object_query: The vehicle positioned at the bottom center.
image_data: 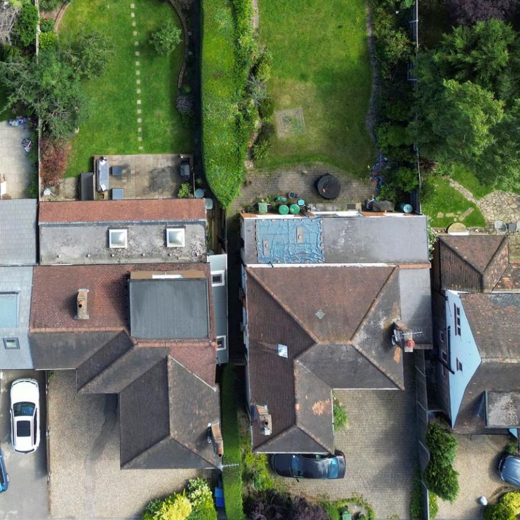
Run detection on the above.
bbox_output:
[273,451,349,489]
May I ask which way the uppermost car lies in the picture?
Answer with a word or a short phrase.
vertically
